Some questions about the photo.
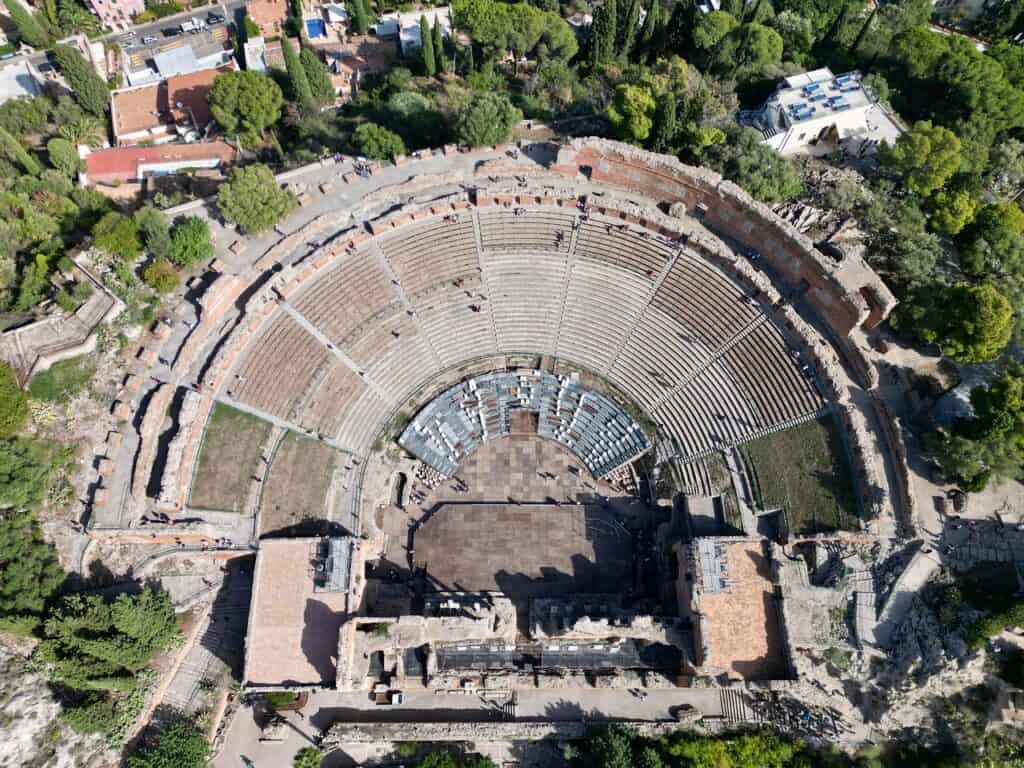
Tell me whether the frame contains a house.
Yes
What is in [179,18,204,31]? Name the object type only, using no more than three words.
vehicle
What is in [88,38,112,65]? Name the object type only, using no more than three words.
house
